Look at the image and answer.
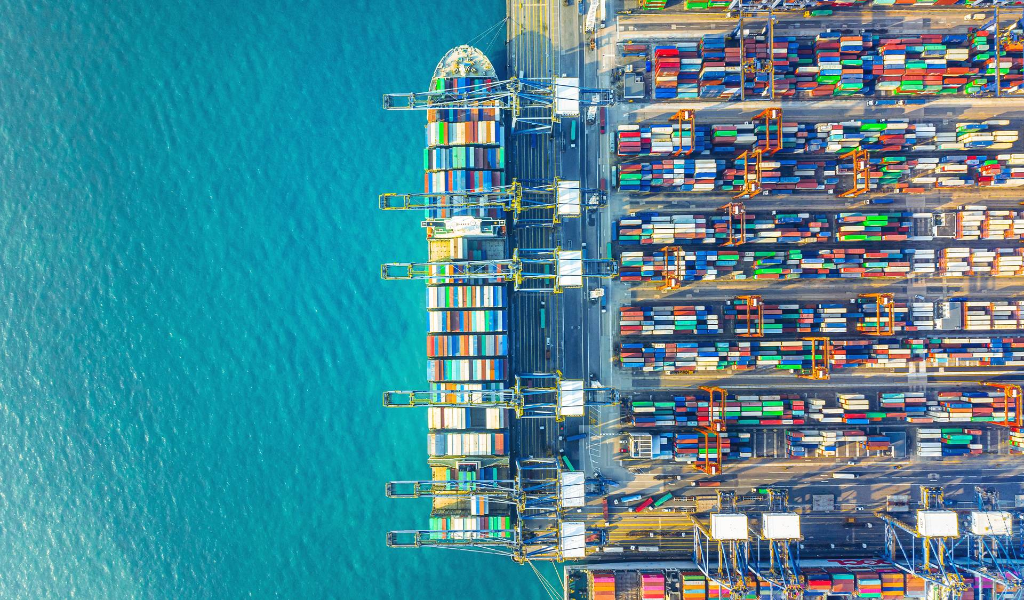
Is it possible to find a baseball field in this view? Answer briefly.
No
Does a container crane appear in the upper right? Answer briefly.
Yes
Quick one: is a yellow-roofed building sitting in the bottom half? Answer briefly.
No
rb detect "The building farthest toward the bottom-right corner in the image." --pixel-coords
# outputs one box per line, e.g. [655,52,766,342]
[878,430,907,458]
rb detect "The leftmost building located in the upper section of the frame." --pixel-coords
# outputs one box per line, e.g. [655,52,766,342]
[622,73,645,102]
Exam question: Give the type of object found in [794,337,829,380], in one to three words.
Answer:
crane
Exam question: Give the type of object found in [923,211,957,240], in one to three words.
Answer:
building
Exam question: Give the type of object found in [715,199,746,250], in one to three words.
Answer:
crane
